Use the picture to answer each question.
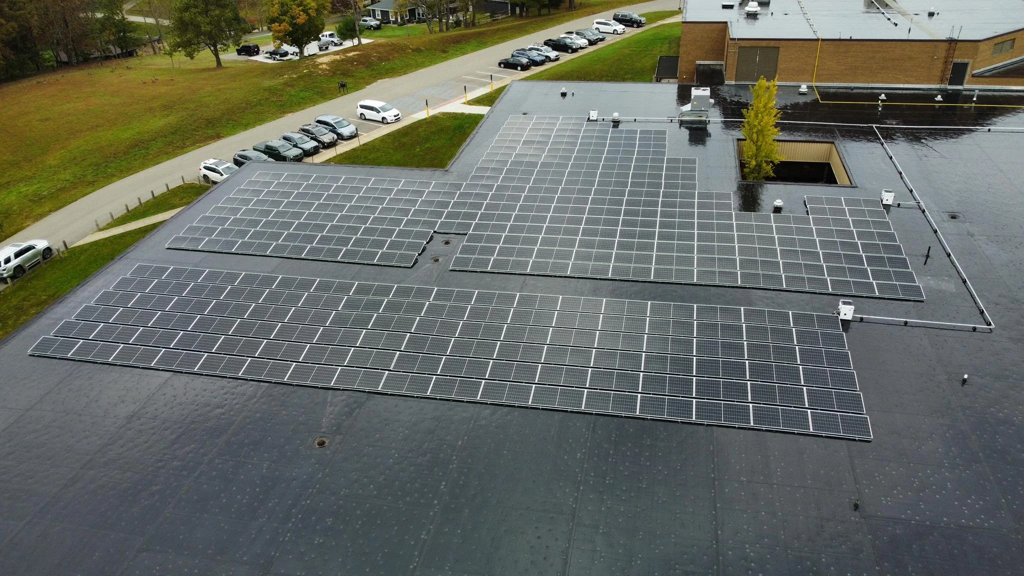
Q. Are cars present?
Yes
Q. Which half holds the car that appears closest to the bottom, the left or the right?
left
